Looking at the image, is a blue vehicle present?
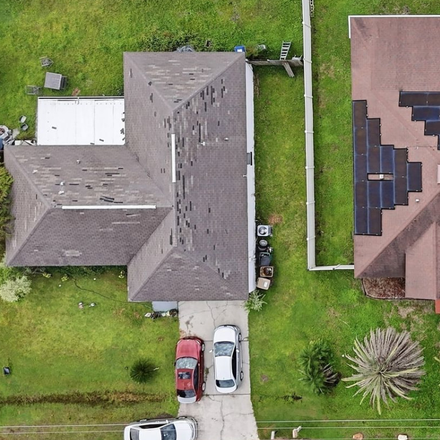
No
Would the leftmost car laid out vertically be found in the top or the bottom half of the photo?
bottom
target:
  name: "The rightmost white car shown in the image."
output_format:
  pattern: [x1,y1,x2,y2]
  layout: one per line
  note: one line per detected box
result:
[209,324,242,394]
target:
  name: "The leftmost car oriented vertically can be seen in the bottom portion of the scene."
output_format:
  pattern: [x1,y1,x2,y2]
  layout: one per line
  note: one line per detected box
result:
[170,335,203,403]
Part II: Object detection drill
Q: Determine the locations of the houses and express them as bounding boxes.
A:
[348,13,440,301]
[3,51,257,303]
